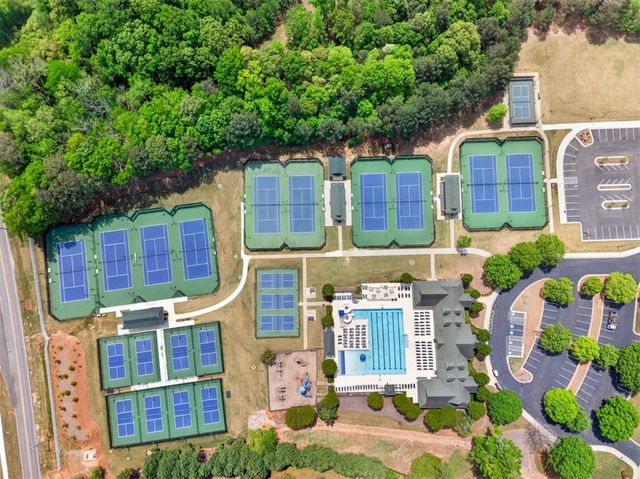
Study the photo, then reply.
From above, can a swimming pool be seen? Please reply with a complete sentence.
Yes, the photo shows a swimming pool.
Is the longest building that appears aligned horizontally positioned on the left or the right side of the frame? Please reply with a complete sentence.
The longest building that appears aligned horizontally appears in the left half of the scene.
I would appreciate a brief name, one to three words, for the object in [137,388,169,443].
sports court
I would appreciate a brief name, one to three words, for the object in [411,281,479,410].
building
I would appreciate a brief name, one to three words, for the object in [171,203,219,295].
tennis court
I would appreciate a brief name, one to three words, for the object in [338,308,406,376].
swimming pool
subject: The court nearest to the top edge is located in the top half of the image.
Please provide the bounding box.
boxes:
[509,77,538,124]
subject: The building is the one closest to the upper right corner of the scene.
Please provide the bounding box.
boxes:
[442,174,461,213]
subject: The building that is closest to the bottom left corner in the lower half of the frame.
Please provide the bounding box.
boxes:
[121,307,166,329]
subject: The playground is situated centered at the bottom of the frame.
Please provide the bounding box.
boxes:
[268,350,316,410]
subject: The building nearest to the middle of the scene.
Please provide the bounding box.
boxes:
[331,182,346,225]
